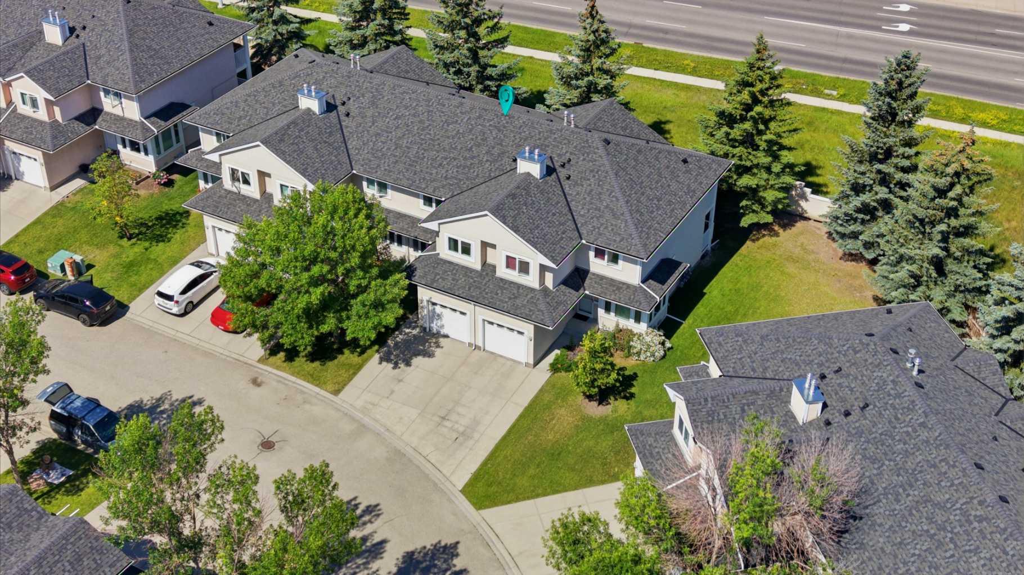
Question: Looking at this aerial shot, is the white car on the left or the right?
left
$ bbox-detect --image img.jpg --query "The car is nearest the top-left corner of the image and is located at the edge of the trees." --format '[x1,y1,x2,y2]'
[0,252,31,293]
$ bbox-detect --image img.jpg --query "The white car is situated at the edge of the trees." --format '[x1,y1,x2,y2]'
[157,259,229,307]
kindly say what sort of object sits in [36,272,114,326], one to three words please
car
